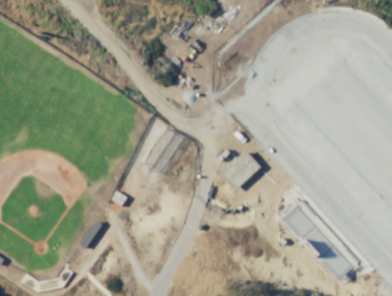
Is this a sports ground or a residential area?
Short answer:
sports ground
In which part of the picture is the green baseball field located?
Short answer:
left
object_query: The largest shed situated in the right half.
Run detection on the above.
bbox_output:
[224,153,261,188]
